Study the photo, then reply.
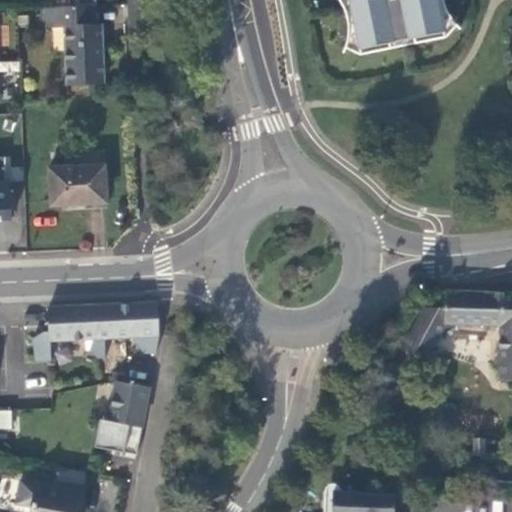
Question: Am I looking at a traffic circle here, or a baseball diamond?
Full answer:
Visible in the photo is a traffic circle.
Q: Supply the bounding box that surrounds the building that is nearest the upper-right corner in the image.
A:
[340,0,463,54]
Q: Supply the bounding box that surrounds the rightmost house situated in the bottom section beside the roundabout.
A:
[404,290,512,352]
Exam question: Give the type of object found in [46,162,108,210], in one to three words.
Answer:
house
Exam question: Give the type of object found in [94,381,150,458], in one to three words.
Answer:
house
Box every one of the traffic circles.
[205,168,384,347]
